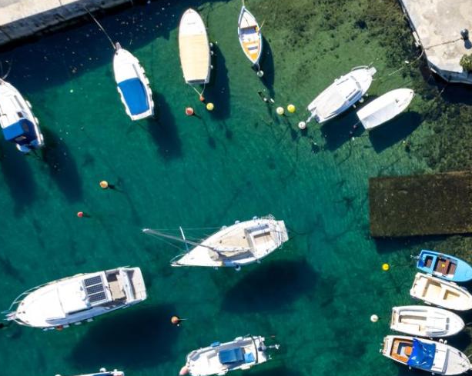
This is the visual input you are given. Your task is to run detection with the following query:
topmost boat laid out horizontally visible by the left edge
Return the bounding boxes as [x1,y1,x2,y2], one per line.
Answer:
[0,263,154,326]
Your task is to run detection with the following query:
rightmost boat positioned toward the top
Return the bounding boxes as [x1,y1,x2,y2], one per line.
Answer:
[355,79,440,132]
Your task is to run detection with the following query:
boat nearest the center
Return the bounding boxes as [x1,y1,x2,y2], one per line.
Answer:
[141,217,296,271]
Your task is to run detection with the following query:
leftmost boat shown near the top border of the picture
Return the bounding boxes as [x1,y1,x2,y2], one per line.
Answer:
[82,5,157,124]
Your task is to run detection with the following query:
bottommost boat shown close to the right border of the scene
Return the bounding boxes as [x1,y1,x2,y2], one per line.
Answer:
[381,332,472,375]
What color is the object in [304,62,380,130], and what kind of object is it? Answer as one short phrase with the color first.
white boat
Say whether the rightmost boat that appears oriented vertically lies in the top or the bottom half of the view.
top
